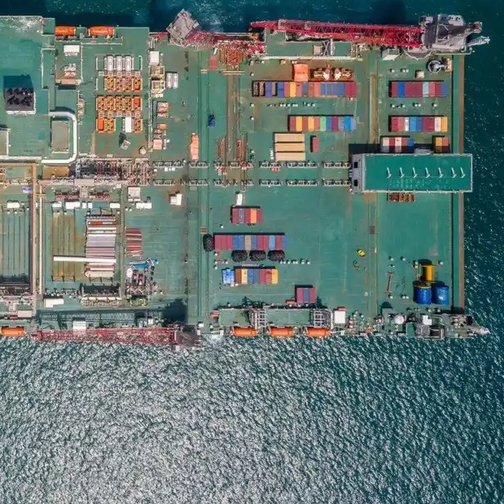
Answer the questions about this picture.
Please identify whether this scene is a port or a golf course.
port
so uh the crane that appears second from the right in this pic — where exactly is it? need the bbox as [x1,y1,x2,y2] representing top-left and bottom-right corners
[159,10,265,57]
